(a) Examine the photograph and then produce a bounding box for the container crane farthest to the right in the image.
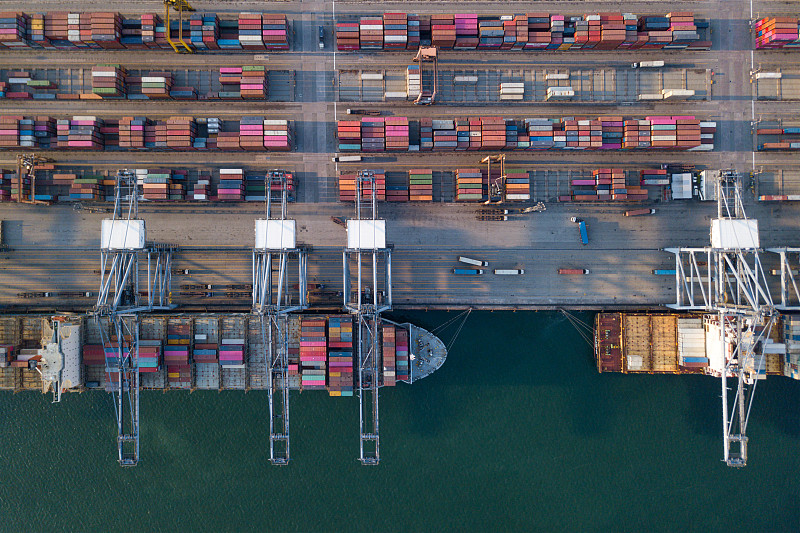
[761,244,800,309]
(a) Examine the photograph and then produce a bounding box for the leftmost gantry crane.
[17,150,56,205]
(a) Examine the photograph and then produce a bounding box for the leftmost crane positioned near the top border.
[164,0,195,52]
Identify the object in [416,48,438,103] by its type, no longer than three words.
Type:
container crane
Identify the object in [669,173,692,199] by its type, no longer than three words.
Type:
building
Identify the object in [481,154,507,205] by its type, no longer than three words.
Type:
container crane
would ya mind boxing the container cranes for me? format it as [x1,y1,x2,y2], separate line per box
[416,48,438,103]
[164,0,195,52]
[17,150,56,205]
[481,154,507,205]
[659,168,781,466]
[86,168,193,466]
[248,167,325,466]
[337,168,400,466]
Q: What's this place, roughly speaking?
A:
port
